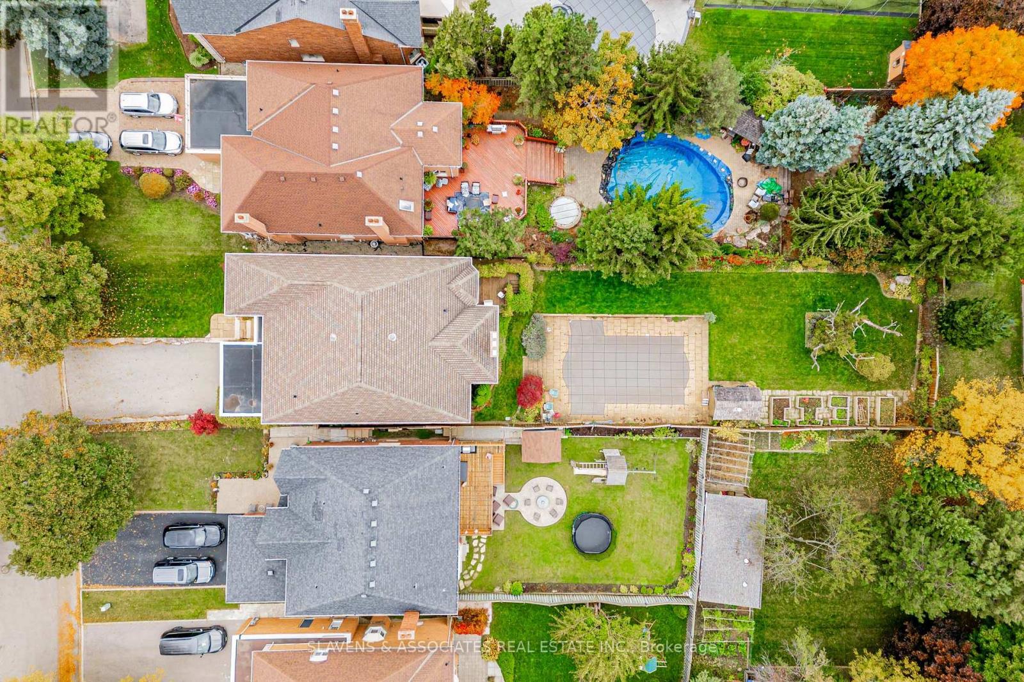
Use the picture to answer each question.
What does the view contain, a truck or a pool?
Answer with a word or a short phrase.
pool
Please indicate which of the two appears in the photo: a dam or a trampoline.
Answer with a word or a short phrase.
trampoline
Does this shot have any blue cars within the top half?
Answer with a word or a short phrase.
No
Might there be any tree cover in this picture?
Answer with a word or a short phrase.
Yes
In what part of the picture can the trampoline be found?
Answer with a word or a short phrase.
bottom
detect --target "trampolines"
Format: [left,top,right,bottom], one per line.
[569,516,615,566]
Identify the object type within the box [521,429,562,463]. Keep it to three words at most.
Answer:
shed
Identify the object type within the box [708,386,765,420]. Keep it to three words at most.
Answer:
shed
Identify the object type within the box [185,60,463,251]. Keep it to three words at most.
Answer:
house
